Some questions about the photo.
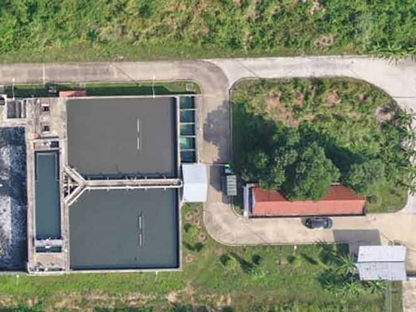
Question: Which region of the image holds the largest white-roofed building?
bottom right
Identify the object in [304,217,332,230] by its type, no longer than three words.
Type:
vehicle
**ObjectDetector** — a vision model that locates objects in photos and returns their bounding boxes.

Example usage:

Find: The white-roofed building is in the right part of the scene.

[352,245,407,280]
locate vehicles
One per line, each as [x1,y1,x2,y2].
[218,164,237,200]
[304,217,332,230]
